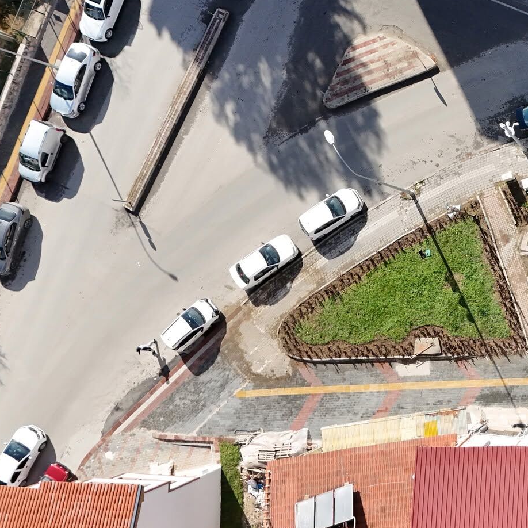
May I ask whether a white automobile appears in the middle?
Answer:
Yes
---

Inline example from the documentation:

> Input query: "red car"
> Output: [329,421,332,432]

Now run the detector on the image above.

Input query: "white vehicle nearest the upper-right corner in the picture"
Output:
[296,188,365,240]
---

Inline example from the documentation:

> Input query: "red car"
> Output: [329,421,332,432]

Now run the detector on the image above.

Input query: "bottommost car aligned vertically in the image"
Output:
[0,204,35,278]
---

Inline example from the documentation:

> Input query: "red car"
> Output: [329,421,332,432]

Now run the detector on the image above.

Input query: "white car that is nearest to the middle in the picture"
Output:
[227,236,299,289]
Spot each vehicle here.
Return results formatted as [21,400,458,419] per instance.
[0,204,35,278]
[81,0,124,43]
[51,41,105,118]
[17,121,68,184]
[227,236,299,289]
[0,426,51,484]
[296,188,365,240]
[37,464,79,485]
[154,298,223,353]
